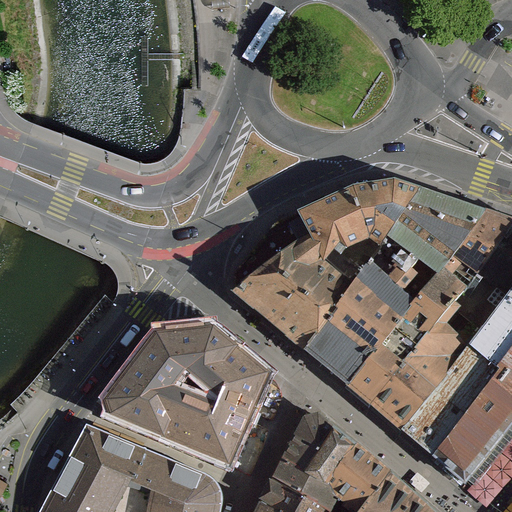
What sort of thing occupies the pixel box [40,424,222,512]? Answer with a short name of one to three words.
building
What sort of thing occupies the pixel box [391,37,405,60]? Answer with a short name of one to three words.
car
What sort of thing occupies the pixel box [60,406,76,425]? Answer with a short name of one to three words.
car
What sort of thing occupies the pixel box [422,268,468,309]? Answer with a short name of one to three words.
house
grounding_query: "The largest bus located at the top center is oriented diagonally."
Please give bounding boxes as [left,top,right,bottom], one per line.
[242,3,287,62]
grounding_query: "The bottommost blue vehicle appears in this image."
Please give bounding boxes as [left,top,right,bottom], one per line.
[45,448,65,472]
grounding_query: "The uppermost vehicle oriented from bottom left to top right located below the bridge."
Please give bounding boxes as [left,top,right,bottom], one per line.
[119,324,140,348]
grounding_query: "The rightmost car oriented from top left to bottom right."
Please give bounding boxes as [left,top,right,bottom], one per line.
[480,124,505,142]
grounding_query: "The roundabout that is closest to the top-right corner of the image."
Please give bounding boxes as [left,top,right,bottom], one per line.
[270,2,394,132]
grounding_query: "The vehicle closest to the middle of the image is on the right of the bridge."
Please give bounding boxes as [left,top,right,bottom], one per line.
[172,227,198,240]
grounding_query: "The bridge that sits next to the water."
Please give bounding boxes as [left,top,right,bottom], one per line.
[0,116,150,264]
